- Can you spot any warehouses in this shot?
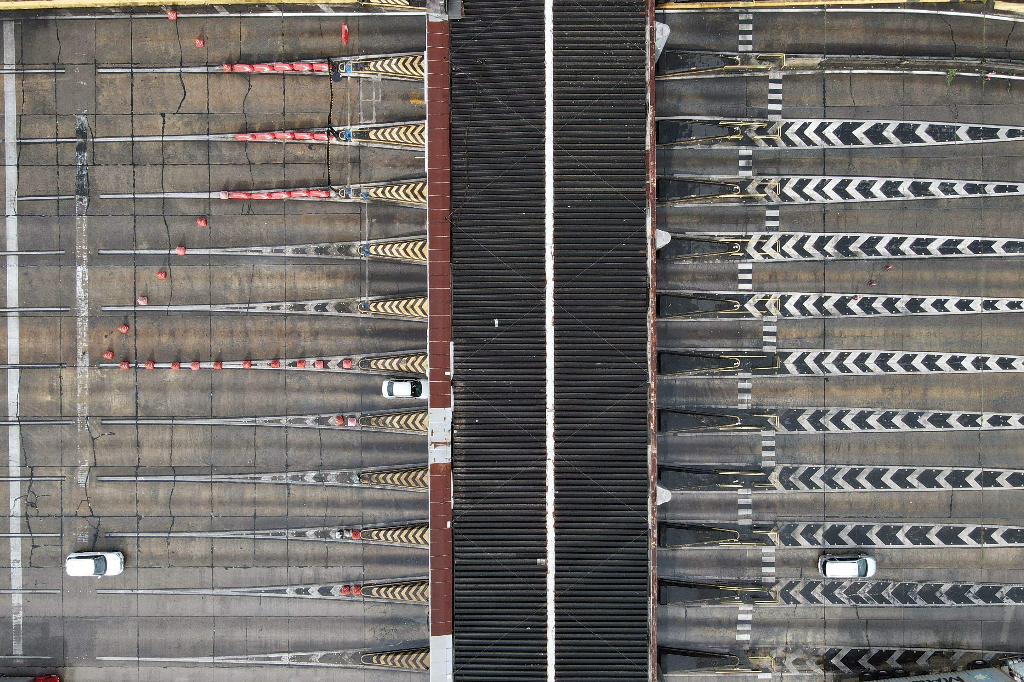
No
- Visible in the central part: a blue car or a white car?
white car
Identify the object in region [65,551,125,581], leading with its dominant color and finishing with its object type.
white car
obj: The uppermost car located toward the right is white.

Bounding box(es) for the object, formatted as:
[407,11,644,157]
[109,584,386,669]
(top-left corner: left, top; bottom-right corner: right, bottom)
[818,552,877,582]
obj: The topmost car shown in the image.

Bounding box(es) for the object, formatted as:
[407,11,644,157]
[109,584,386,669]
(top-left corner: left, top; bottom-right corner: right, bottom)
[382,375,428,403]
